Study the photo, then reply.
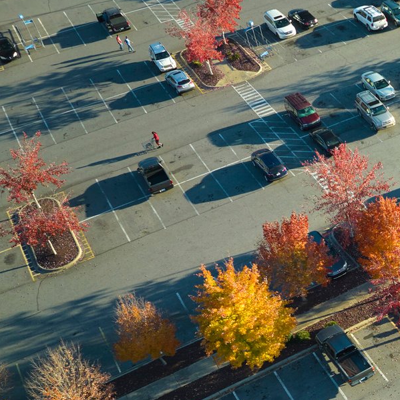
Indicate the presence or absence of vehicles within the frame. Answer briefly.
Yes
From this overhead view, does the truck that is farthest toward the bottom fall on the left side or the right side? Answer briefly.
right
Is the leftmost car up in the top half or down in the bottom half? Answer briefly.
top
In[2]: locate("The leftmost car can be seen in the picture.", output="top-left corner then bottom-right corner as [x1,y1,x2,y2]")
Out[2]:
[0,38,24,65]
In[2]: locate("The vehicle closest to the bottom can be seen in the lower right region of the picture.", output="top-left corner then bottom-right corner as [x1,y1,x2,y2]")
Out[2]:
[314,323,383,396]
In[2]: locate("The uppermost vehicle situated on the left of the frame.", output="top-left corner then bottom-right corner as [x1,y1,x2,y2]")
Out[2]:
[98,6,133,36]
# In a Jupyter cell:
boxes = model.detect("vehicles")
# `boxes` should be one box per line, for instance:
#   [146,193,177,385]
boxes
[355,6,390,33]
[165,70,196,97]
[306,124,348,159]
[280,90,323,133]
[356,90,397,130]
[250,148,290,186]
[314,323,383,396]
[376,0,400,27]
[98,6,133,36]
[146,41,181,75]
[288,8,321,32]
[359,70,400,102]
[0,38,24,65]
[131,150,175,197]
[262,8,299,40]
